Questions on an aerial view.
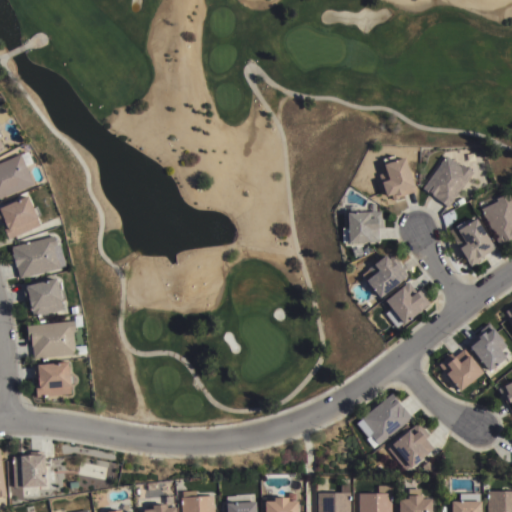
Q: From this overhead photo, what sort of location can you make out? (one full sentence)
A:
The area seen from above is a golf course.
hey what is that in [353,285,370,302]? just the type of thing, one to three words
swimming pool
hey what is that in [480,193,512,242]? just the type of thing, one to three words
house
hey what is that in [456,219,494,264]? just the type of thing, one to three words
house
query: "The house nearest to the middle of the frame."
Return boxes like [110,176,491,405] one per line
[348,212,382,246]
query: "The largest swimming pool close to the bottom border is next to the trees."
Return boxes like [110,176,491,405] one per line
[452,479,480,492]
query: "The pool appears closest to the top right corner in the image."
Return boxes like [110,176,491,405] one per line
[348,192,366,206]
